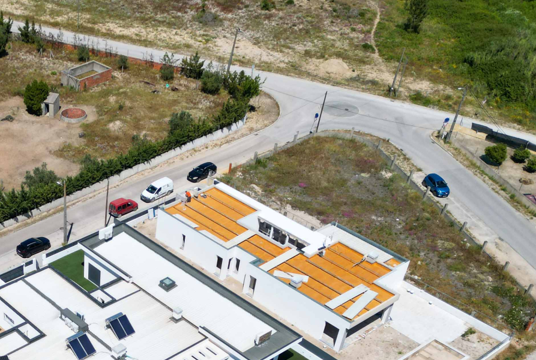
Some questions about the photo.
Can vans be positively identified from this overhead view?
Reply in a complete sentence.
Yes, there's a van here.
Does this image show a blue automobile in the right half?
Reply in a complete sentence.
Yes, in the right half there is a blue automobile.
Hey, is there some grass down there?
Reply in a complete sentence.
Yes, the picture does contain grass.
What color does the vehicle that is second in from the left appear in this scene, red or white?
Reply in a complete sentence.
The vehicle that is second in from the left looks red in the image.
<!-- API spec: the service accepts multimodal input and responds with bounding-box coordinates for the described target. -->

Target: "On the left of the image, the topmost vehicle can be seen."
[186,161,220,184]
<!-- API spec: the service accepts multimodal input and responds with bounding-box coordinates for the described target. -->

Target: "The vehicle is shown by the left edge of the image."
[12,236,53,261]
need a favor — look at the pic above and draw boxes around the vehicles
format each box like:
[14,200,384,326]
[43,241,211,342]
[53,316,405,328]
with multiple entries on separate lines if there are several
[141,174,175,202]
[421,174,452,199]
[12,236,53,261]
[186,161,220,184]
[108,195,140,219]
